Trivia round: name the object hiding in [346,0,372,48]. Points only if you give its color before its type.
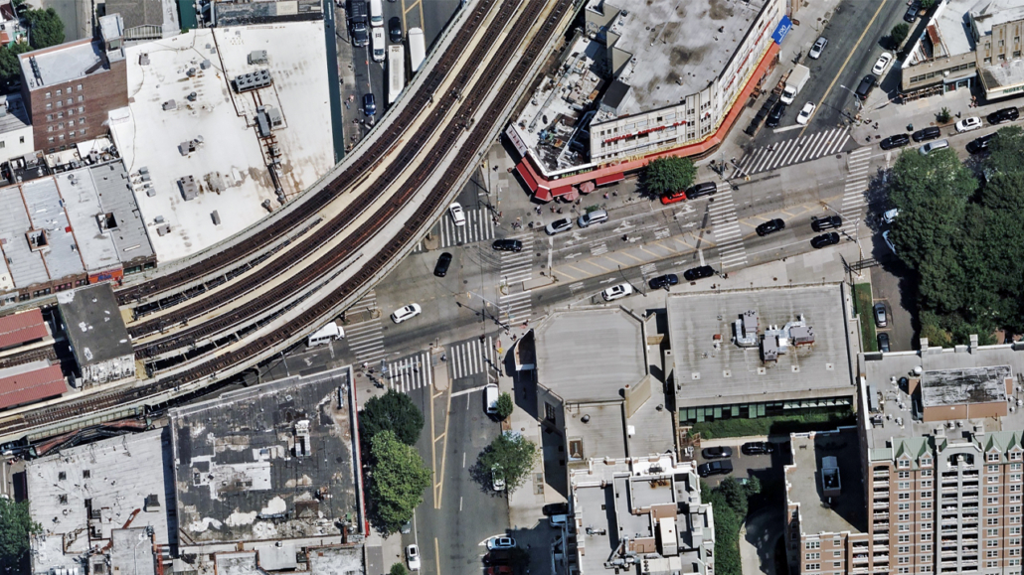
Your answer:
black truck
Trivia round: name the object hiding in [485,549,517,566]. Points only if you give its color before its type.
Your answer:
black vehicle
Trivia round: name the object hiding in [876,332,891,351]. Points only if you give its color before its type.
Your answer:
black car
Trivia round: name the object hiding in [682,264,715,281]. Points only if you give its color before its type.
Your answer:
black car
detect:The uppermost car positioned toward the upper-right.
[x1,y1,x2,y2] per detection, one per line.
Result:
[902,0,923,24]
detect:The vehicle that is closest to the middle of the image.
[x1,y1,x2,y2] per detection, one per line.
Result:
[492,237,522,252]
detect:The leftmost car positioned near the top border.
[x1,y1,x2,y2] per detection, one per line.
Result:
[14,0,38,20]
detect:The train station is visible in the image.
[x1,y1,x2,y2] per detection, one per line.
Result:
[0,308,136,419]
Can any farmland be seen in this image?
No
